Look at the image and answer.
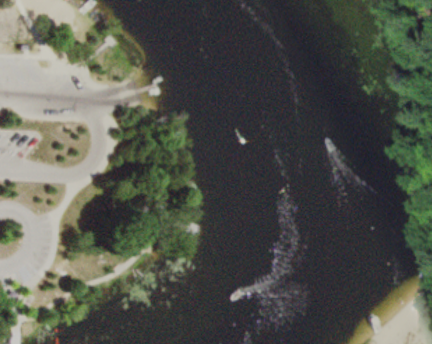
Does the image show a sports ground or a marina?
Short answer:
marina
